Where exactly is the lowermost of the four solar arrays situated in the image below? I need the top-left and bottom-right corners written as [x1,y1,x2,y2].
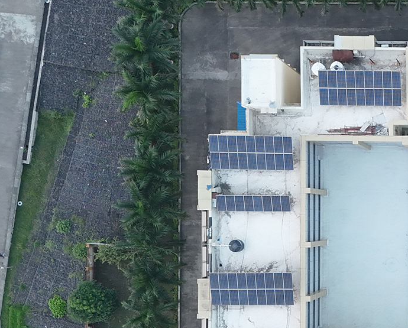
[210,273,293,308]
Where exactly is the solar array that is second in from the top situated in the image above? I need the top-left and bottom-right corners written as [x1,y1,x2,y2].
[208,135,293,171]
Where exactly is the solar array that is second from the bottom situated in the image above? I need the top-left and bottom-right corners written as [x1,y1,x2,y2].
[216,196,289,213]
